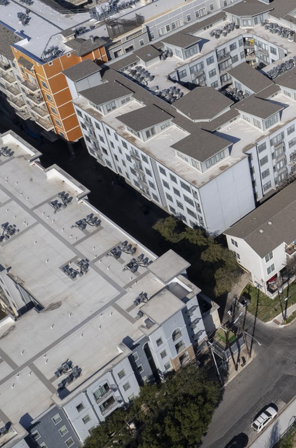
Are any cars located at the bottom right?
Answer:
Yes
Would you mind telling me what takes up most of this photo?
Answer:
buildings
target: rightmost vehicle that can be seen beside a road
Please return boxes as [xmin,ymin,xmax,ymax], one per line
[248,400,284,439]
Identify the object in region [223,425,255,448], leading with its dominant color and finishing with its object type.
black car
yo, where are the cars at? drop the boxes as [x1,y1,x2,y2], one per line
[248,400,284,439]
[223,425,255,448]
